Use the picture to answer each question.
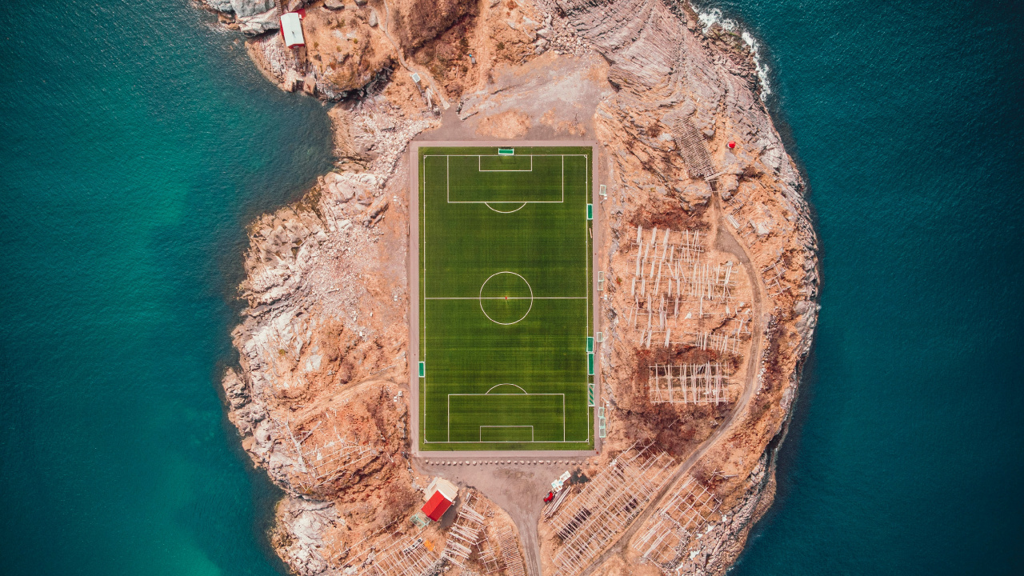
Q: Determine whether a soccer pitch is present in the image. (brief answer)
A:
Yes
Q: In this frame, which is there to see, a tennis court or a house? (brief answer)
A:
house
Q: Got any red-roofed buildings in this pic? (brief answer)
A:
Yes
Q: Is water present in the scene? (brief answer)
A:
Yes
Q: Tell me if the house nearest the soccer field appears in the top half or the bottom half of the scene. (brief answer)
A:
bottom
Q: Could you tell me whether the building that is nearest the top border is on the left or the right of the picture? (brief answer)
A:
left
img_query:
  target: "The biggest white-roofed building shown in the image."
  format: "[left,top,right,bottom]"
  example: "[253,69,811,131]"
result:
[280,7,308,50]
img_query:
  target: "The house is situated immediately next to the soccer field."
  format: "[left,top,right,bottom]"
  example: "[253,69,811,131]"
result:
[422,476,459,521]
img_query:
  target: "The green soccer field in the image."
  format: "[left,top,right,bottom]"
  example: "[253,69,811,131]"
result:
[408,140,600,457]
